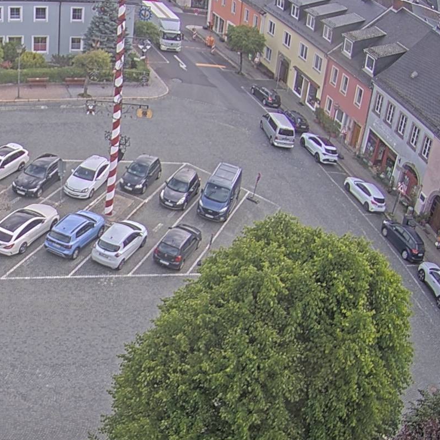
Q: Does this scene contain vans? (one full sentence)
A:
Yes, this view includes a van.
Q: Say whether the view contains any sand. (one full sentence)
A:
No, the scene doesn't show any sand.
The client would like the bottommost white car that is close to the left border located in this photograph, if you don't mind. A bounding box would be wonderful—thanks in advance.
[0,204,58,258]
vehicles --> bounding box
[63,157,109,198]
[120,152,163,193]
[300,133,339,164]
[256,113,297,147]
[250,84,284,107]
[383,219,427,263]
[45,211,106,259]
[200,168,241,222]
[94,223,147,269]
[0,142,28,179]
[10,150,69,197]
[161,167,201,210]
[420,264,440,305]
[152,224,203,271]
[346,179,386,212]
[143,0,185,47]
[0,204,58,258]
[280,108,316,135]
